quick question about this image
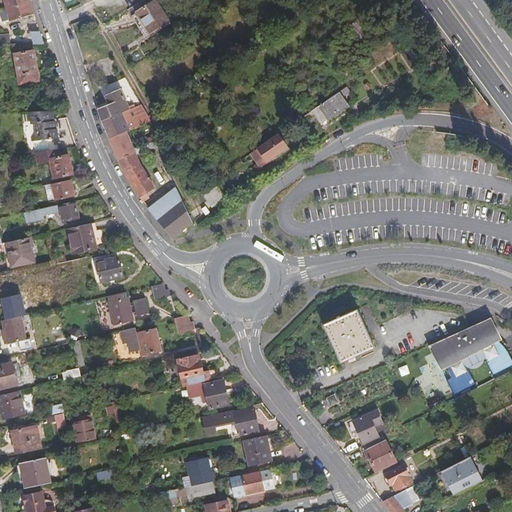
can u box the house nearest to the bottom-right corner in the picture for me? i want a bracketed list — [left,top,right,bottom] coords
[442,458,484,497]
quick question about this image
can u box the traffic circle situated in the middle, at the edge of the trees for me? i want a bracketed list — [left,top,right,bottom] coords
[201,234,289,322]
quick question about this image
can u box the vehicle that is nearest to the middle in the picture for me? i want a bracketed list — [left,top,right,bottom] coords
[254,240,284,262]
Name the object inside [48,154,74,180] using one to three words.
house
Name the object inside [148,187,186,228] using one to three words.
building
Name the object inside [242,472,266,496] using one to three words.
house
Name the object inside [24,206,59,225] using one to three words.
shed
